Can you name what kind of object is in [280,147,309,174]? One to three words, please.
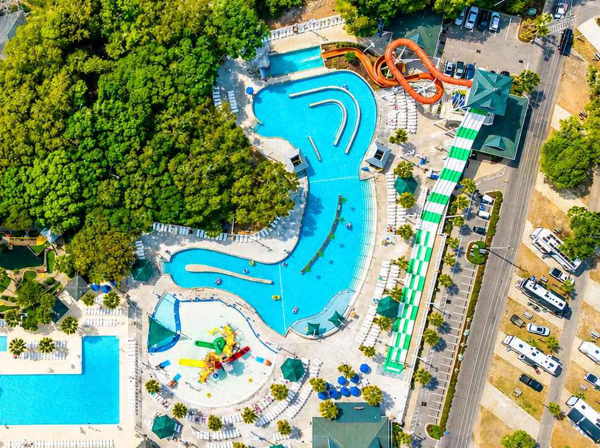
shed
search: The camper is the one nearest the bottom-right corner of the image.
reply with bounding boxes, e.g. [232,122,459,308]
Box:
[557,395,600,446]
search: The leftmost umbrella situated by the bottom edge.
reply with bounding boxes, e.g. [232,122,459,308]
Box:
[152,414,176,440]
